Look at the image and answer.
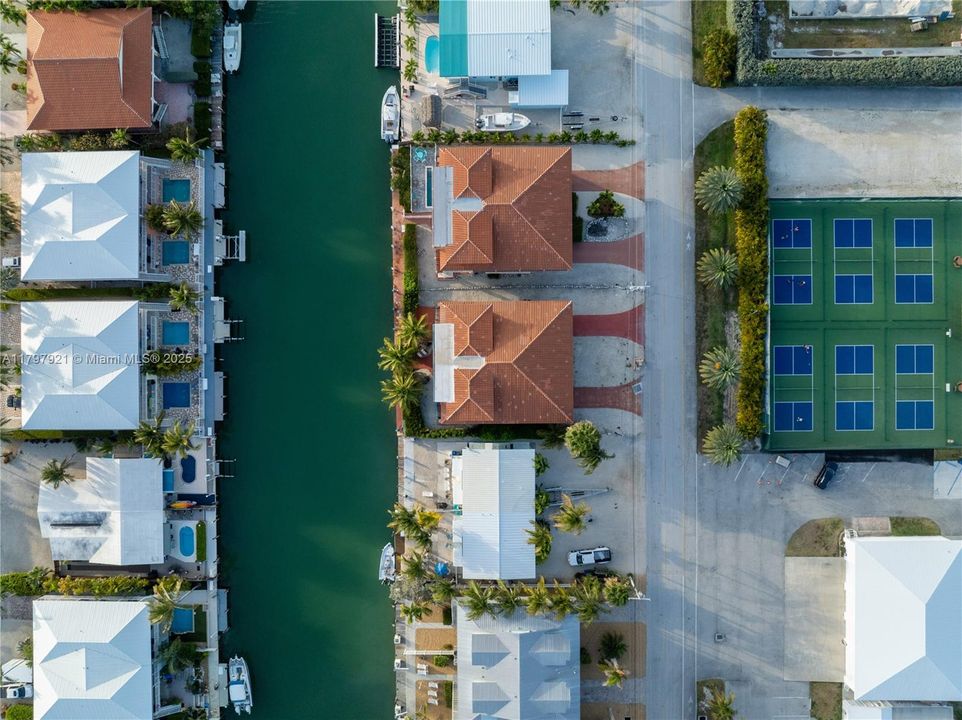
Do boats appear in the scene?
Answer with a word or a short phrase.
Yes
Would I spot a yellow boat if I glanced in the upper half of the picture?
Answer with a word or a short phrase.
No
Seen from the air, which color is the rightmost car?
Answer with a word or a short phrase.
black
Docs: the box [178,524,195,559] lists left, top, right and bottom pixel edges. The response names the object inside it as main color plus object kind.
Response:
blue swimming pool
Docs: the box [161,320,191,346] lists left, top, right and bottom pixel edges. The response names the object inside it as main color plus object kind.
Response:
blue swimming pool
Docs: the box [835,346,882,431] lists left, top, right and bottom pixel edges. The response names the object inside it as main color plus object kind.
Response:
blue sports court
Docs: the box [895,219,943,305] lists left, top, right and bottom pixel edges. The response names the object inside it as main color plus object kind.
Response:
blue sports court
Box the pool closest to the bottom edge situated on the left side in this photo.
[169,607,195,635]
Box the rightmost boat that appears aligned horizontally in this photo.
[473,103,530,127]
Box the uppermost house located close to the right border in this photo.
[843,535,962,700]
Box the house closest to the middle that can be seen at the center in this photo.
[433,301,573,423]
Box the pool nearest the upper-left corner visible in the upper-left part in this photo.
[161,178,192,203]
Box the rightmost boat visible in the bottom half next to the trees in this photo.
[378,541,395,587]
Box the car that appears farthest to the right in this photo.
[817,460,840,491]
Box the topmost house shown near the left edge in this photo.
[26,7,173,131]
